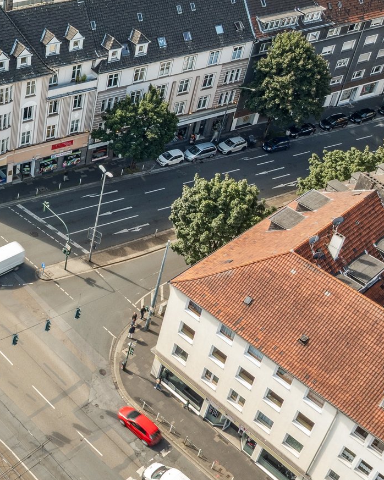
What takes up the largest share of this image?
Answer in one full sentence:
Most of the picture is covered by buildings.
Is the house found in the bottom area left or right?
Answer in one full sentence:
The house found in the bottom area is on the right side of the image.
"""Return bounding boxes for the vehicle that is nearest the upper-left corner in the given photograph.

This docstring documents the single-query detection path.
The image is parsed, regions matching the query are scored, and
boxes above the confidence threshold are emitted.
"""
[154,148,189,169]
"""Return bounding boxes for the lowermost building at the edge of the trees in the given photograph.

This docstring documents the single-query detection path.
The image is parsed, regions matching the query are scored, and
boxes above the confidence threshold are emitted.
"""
[148,180,384,480]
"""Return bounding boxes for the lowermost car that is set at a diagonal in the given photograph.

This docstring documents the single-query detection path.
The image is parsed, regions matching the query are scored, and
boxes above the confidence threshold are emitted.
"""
[109,404,171,455]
